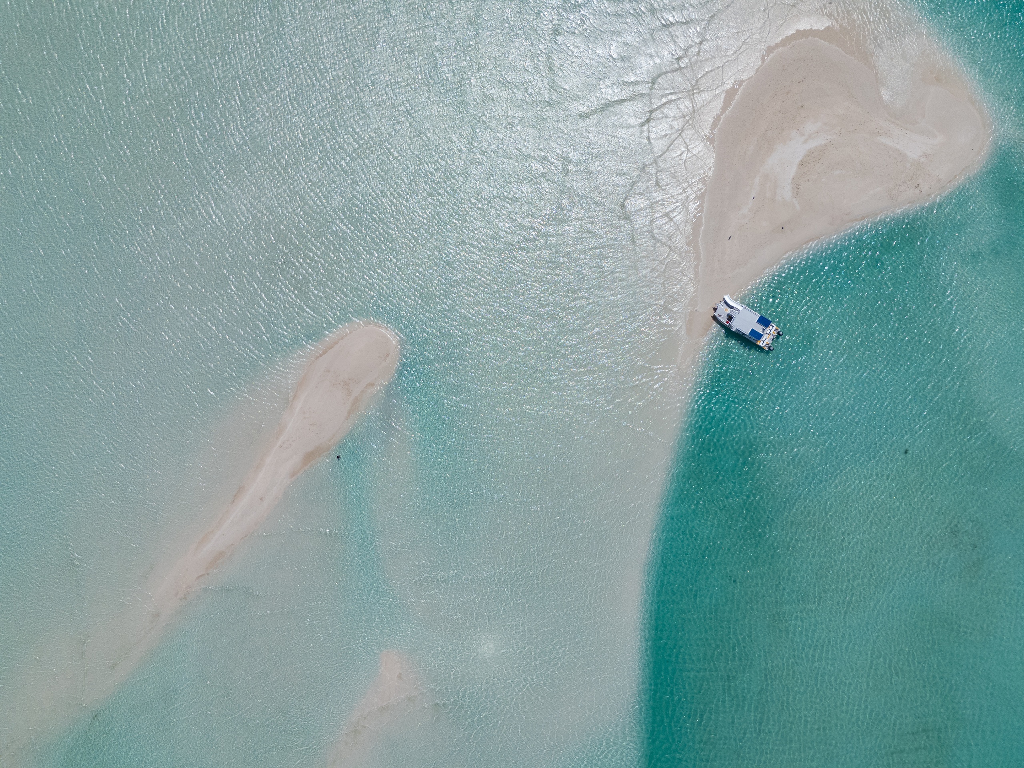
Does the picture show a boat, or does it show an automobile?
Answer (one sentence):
Looking from above, you can make out a boat.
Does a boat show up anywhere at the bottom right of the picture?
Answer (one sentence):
No, there is no boat at the bottom right of the picture.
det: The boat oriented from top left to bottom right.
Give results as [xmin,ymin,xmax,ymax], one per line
[713,293,784,351]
